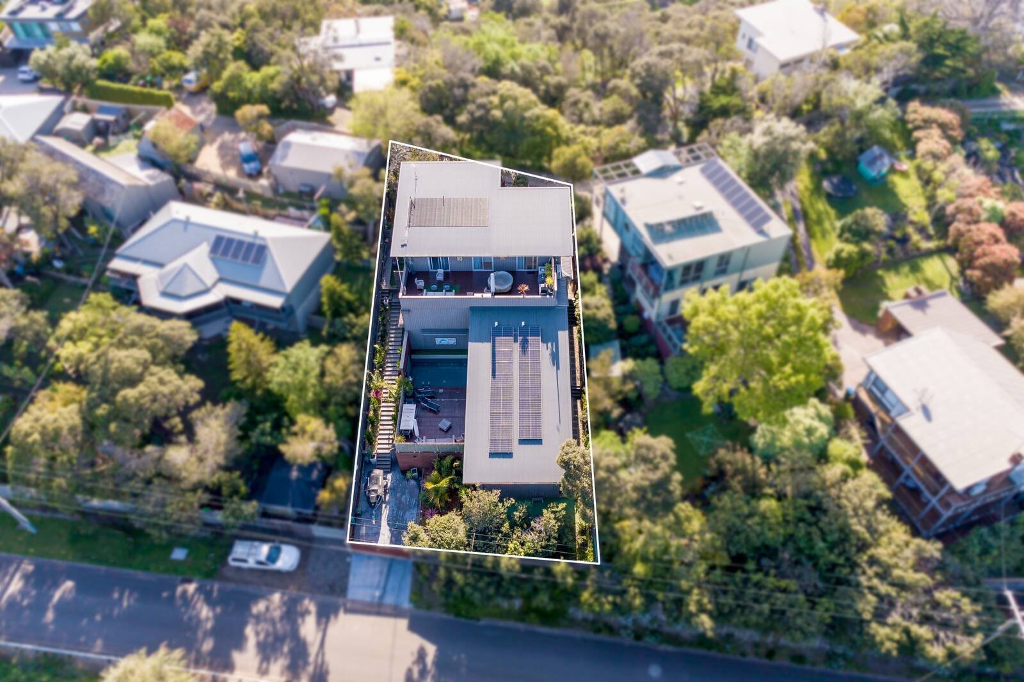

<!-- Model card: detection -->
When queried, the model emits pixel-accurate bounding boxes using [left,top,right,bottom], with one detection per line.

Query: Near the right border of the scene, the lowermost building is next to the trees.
[844,326,1024,542]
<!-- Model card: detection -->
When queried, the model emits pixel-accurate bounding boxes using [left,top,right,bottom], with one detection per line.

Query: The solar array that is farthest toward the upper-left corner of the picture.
[209,235,259,264]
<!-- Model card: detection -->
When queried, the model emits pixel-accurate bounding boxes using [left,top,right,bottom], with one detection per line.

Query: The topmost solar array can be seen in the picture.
[700,161,774,228]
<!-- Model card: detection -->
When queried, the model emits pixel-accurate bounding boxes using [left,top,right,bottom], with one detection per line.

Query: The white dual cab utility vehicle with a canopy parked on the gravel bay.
[221,534,300,572]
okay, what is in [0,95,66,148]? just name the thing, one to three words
building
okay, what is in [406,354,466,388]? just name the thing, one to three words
swimming pool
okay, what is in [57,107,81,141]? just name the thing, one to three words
shed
